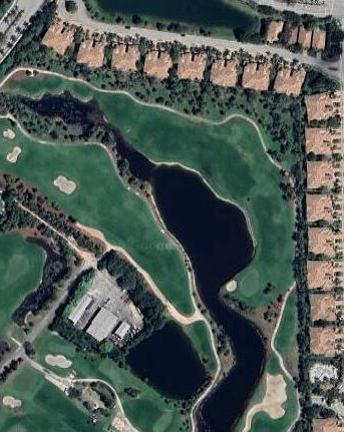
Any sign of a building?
Yes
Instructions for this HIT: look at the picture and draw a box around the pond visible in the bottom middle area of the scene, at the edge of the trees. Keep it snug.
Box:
[127,322,209,399]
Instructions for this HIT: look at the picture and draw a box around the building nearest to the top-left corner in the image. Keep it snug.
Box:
[40,16,77,58]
